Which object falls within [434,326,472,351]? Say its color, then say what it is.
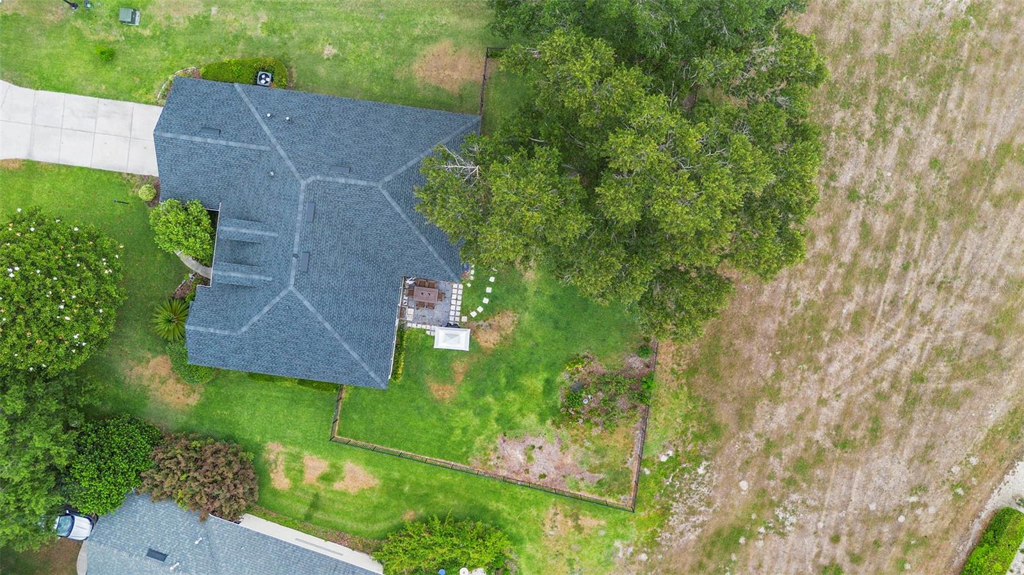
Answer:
white gazebo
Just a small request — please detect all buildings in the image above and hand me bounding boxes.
[87,490,385,575]
[155,76,482,391]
